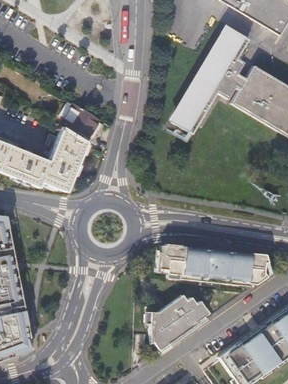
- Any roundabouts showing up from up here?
Yes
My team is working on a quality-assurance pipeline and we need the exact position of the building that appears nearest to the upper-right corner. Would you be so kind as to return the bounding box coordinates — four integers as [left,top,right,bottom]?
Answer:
[216,0,288,38]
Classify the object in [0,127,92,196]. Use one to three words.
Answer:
building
